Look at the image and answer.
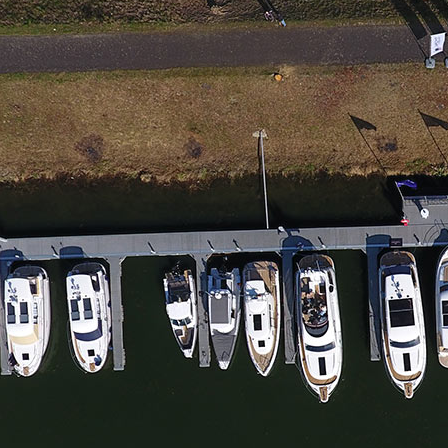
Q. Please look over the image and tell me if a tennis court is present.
No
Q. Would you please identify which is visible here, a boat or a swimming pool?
boat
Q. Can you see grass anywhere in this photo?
Yes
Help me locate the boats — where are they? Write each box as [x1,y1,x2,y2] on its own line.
[242,251,284,376]
[434,245,448,368]
[205,254,242,369]
[290,250,344,403]
[55,255,115,373]
[164,253,198,359]
[0,259,53,376]
[376,245,427,399]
